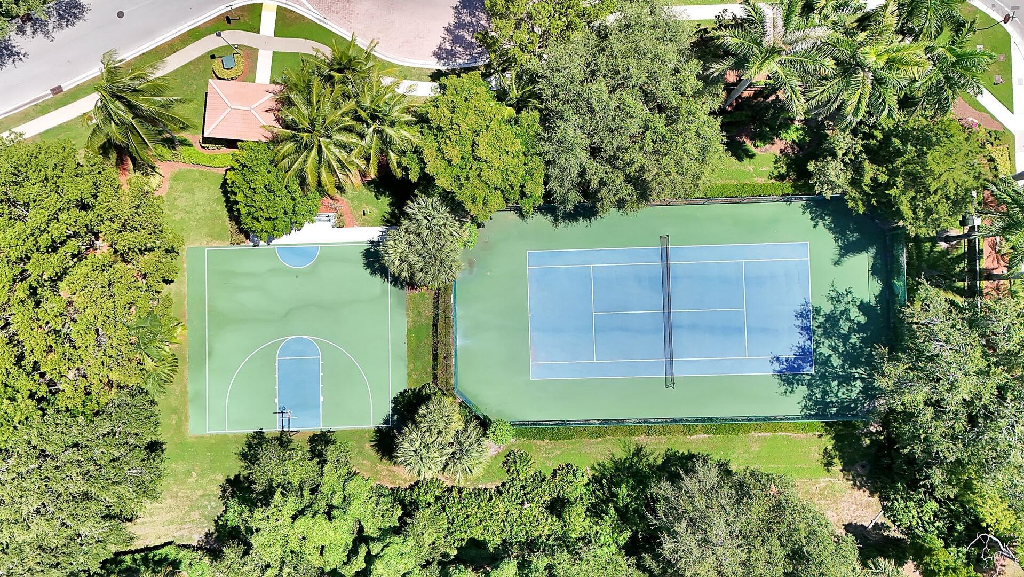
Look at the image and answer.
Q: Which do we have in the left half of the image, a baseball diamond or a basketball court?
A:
basketball court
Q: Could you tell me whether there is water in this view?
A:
No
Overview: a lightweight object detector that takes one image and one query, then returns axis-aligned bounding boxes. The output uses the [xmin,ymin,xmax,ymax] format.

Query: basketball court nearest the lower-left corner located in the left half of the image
[184,239,408,435]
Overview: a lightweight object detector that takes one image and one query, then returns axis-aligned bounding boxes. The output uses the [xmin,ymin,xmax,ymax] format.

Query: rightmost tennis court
[454,201,886,423]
